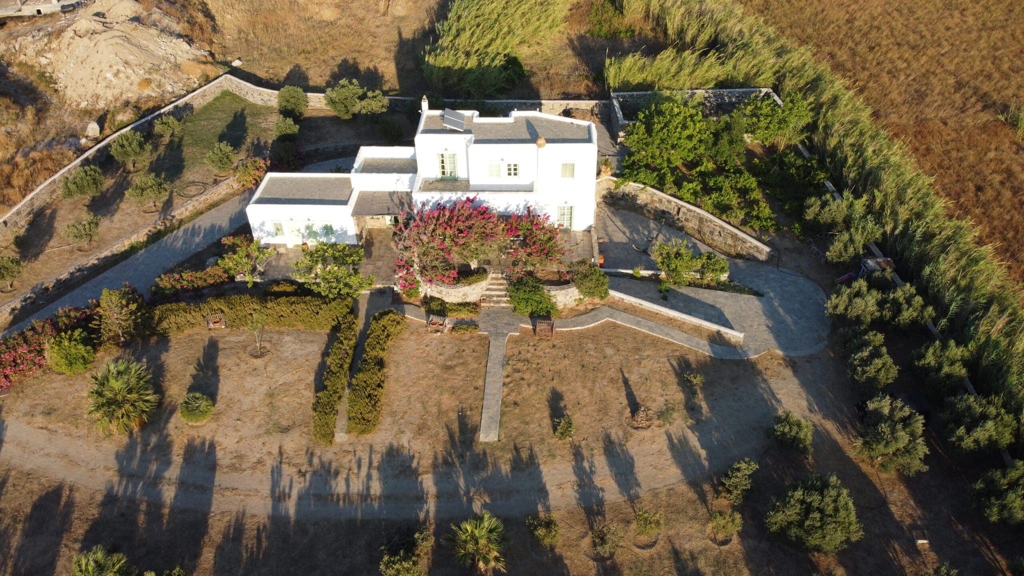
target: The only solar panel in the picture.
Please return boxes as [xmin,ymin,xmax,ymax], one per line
[444,109,465,132]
